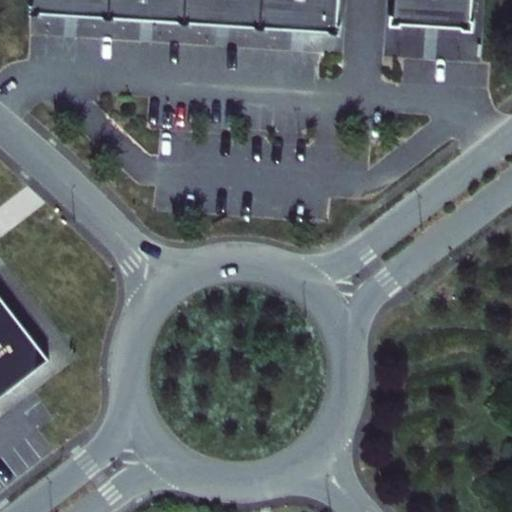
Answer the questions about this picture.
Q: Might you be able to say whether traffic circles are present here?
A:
Yes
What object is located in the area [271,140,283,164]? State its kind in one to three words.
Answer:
vehicle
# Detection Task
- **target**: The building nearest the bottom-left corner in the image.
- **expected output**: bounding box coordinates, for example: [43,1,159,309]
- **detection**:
[0,296,48,396]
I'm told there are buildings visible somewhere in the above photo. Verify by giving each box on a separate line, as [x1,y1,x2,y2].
[0,296,48,396]
[30,0,344,34]
[388,0,476,34]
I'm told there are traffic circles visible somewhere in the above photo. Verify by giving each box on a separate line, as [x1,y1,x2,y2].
[113,245,365,497]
